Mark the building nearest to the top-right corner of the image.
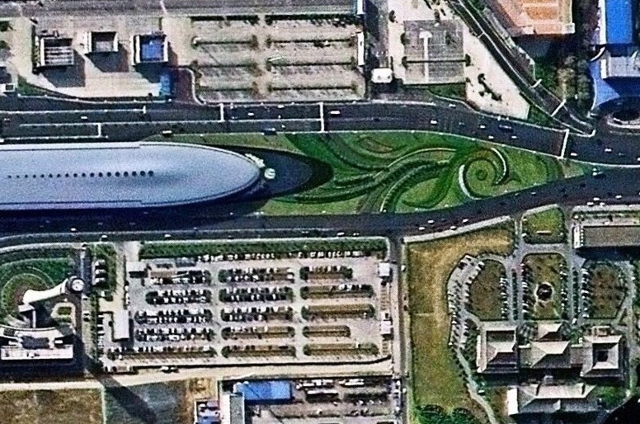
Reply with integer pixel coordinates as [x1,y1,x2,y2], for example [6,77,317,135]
[601,0,634,46]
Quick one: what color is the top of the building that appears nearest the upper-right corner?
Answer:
blue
